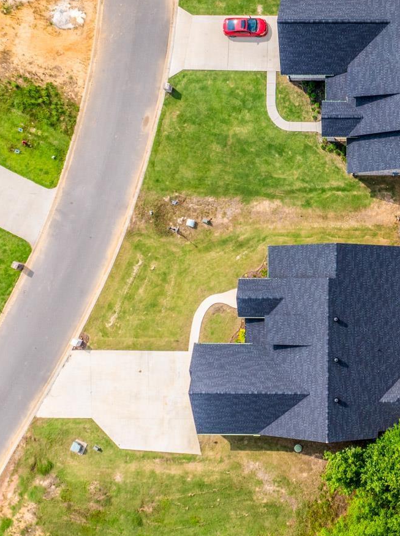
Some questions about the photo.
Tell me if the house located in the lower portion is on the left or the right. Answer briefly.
right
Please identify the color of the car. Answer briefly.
red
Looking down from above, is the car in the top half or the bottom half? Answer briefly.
top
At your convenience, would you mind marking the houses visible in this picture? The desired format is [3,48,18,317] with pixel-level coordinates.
[189,242,400,443]
[278,0,400,177]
